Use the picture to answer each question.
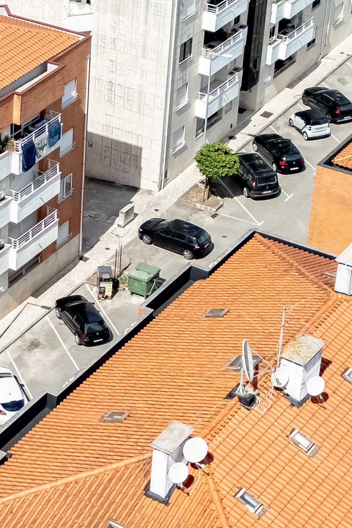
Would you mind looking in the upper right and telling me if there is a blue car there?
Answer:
No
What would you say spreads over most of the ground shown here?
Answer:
buildings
